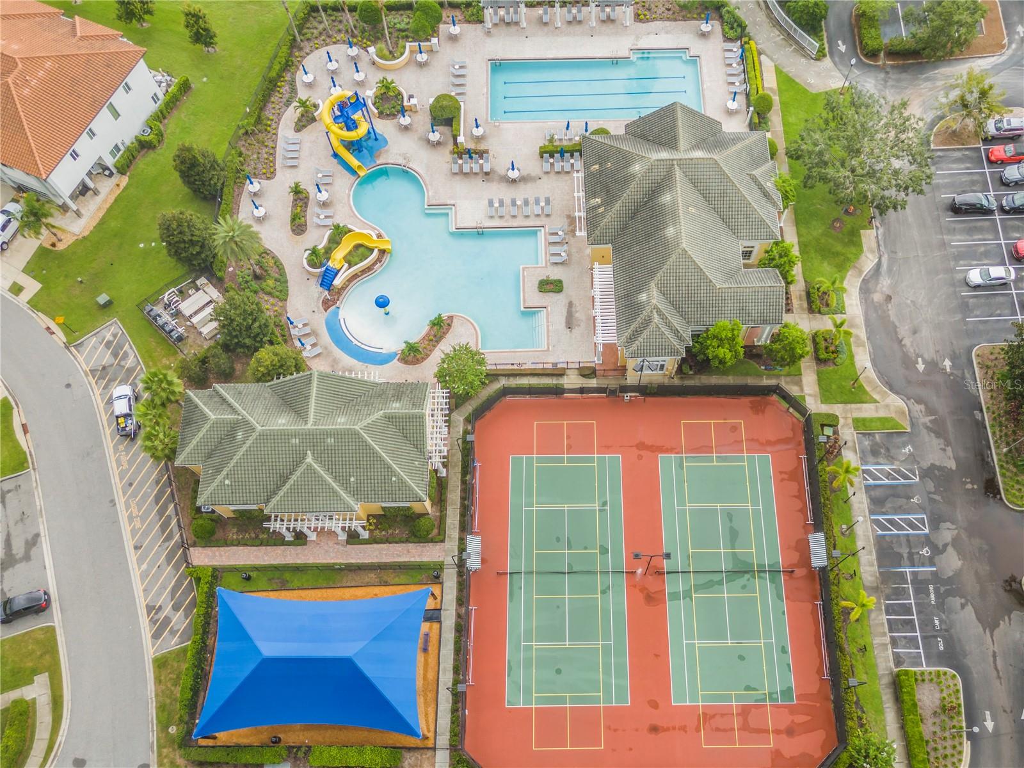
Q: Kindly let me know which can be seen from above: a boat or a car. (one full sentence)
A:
There is a car in the scene.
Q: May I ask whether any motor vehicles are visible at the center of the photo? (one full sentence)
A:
No, no motor vehicle is visible at the center of the photo.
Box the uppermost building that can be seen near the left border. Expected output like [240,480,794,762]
[0,0,159,204]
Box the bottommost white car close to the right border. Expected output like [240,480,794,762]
[965,266,1015,287]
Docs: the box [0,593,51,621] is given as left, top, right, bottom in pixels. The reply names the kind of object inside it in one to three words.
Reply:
car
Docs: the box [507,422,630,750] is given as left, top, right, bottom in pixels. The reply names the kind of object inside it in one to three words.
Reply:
tennis court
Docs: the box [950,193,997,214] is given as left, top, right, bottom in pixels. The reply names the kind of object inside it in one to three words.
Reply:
car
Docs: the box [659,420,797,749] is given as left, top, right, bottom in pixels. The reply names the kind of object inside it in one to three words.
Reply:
tennis court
